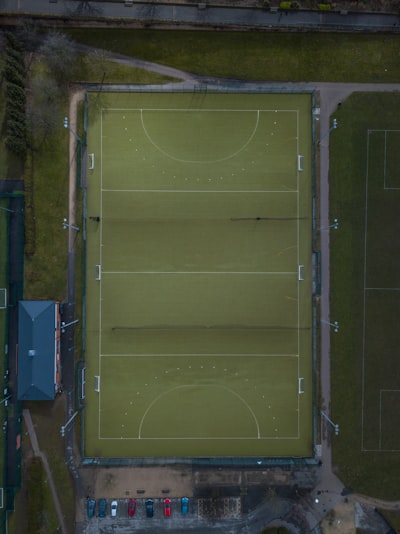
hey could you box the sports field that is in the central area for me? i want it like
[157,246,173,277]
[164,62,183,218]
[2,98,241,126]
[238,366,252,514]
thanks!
[85,92,313,458]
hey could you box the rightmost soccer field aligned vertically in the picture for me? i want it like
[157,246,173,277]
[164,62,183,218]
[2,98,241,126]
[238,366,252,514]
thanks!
[330,97,400,494]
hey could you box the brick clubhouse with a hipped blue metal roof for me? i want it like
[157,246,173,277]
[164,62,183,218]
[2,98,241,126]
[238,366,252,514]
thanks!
[16,300,61,401]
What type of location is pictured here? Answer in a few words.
sports ground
